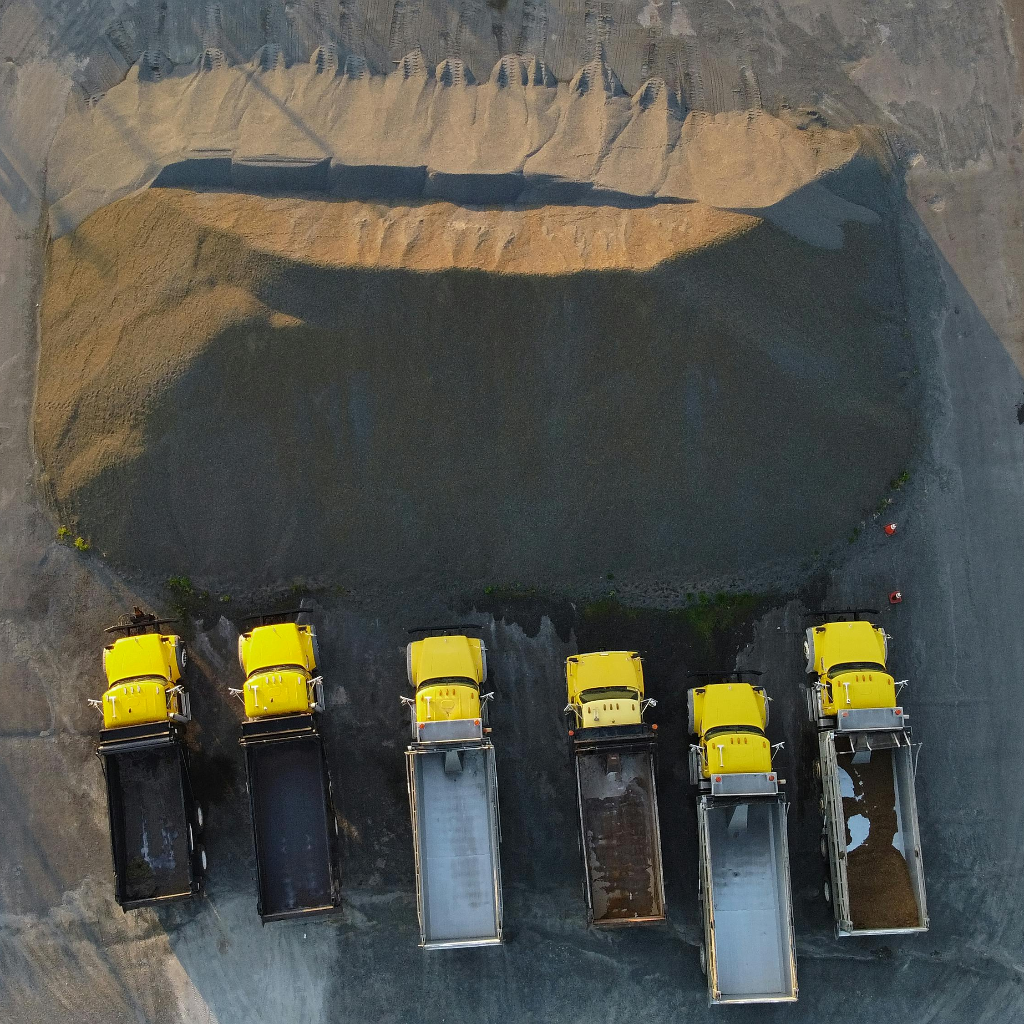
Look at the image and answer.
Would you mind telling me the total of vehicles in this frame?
6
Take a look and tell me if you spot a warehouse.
No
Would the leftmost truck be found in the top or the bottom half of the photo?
bottom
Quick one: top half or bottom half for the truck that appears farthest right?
bottom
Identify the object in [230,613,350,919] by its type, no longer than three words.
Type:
truck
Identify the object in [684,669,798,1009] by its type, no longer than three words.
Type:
truck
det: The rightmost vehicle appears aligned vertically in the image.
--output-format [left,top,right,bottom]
[800,605,929,937]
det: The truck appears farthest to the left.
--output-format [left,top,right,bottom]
[90,600,214,909]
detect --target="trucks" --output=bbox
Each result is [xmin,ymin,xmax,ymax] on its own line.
[230,613,350,919]
[684,669,798,1009]
[800,605,929,937]
[559,649,670,929]
[400,621,507,952]
[90,600,214,909]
